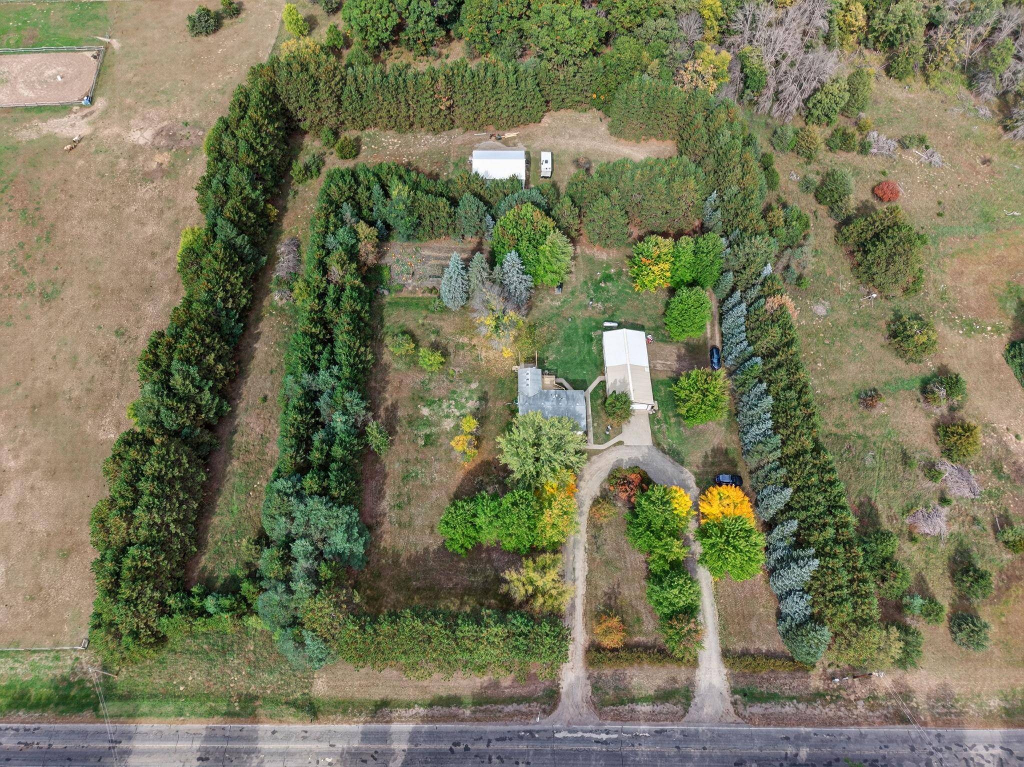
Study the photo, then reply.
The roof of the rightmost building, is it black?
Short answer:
No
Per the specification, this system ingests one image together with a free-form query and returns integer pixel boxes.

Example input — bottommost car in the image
[714,475,743,489]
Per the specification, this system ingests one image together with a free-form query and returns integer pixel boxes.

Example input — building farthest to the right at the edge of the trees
[602,328,655,410]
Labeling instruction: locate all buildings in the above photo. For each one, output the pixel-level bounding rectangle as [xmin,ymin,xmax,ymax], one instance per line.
[472,150,525,190]
[602,328,655,410]
[518,366,587,440]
